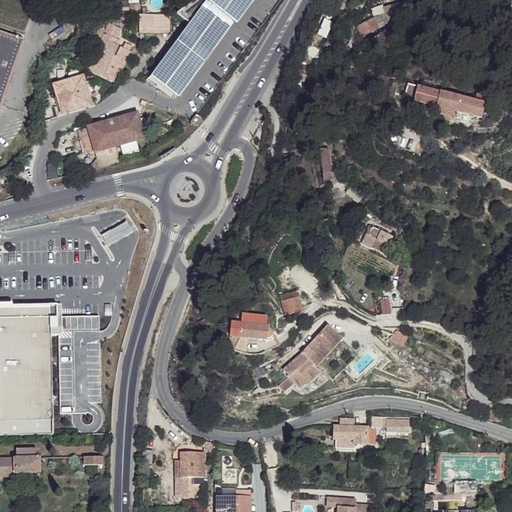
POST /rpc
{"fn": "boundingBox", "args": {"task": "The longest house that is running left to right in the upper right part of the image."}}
[414,84,486,118]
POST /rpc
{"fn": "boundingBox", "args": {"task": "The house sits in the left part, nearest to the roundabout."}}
[78,108,143,152]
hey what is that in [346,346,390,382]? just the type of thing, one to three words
swimming pool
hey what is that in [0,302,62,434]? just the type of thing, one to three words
building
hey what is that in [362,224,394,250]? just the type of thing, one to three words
house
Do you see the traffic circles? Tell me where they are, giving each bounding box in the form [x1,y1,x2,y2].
[154,152,220,230]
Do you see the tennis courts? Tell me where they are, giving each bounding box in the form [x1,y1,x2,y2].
[436,452,506,484]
